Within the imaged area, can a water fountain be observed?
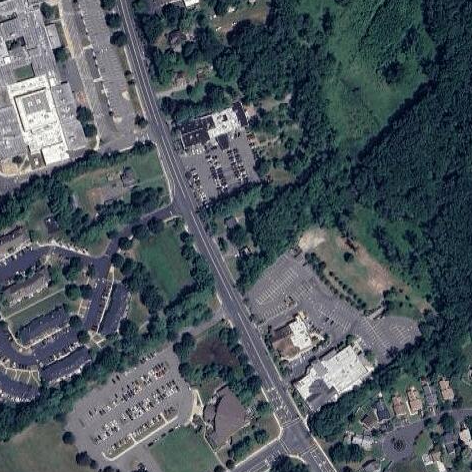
No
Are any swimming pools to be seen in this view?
No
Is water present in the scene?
No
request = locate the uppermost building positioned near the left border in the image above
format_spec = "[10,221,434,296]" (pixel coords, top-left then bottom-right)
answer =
[0,0,88,164]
